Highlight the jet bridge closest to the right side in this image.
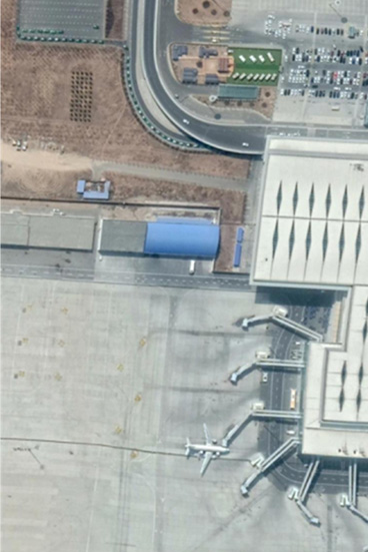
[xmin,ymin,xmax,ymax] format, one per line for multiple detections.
[338,460,368,521]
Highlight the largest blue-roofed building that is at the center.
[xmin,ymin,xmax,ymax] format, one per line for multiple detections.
[143,222,220,258]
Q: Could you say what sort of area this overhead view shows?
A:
airport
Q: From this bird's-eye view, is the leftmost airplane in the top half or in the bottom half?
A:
bottom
